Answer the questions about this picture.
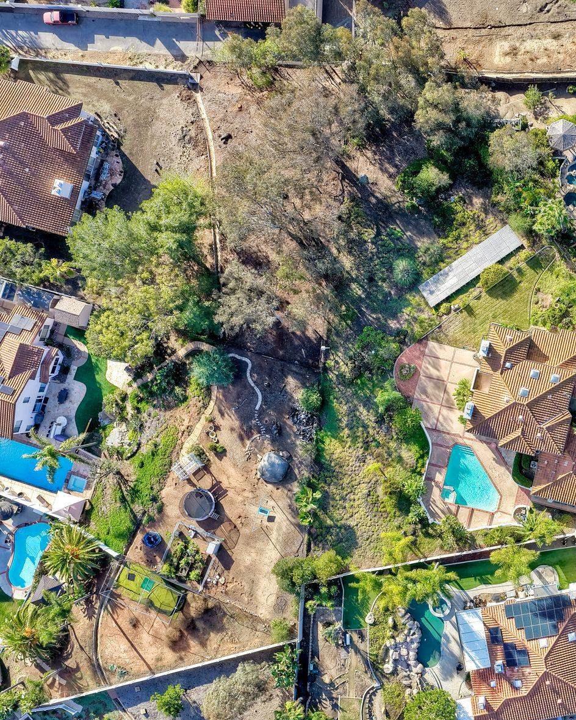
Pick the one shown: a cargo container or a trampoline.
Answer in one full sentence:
I can see a trampoline in this picture.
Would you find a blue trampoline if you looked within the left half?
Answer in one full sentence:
Yes, you'll find a blue trampoline within the left half.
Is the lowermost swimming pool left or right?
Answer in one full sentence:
It is on the right.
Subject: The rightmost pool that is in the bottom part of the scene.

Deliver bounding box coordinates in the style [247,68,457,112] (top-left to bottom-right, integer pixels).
[438,442,503,515]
